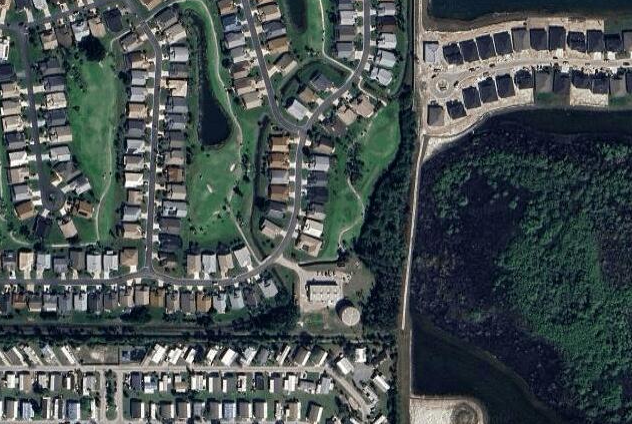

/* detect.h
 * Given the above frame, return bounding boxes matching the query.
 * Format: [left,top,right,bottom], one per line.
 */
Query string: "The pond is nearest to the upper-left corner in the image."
[192,12,230,145]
